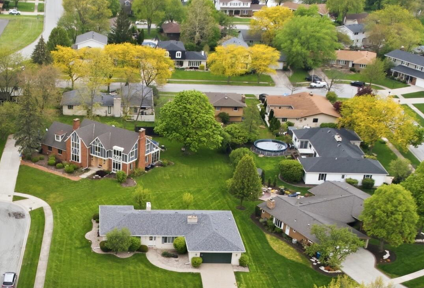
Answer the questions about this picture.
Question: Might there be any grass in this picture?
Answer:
Yes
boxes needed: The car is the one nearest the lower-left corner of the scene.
[1,273,17,288]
